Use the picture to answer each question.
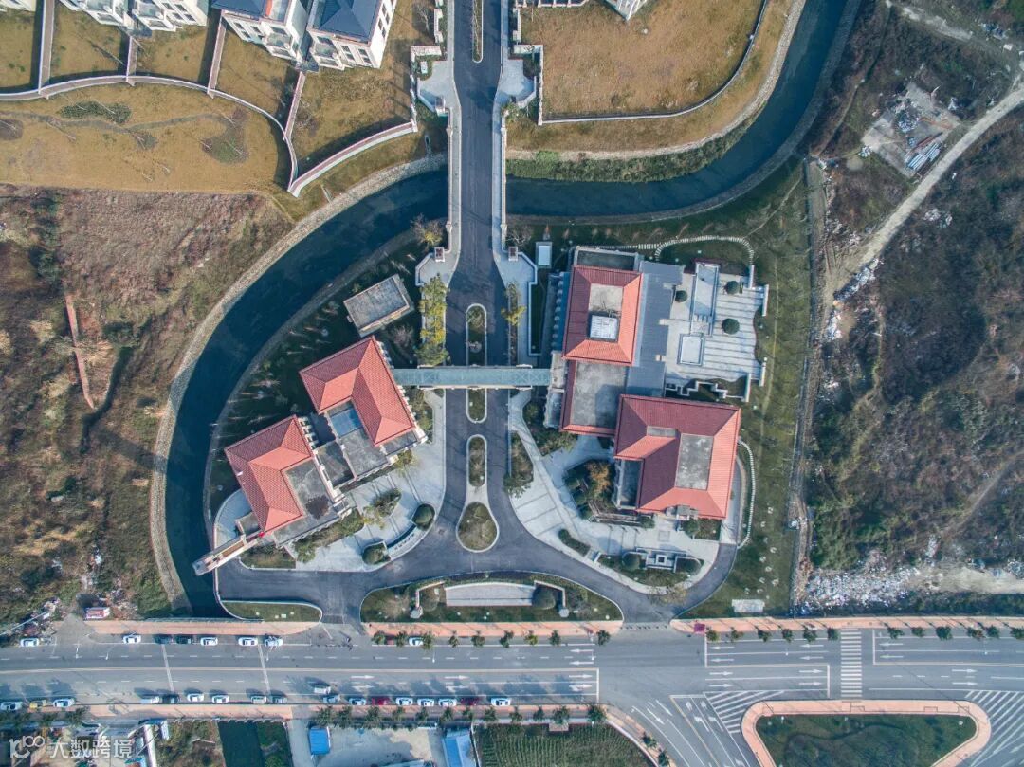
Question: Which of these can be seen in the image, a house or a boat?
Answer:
house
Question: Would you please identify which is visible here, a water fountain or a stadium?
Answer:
water fountain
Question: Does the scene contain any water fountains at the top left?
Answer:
No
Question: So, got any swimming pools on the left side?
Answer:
No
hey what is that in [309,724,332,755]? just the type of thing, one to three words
shed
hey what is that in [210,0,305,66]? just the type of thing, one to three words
house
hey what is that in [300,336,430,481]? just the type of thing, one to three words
building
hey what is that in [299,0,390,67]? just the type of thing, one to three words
house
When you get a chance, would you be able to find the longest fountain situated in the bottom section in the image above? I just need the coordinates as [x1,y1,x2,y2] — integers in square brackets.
[622,547,702,572]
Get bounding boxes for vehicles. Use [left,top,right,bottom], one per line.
[162,694,180,703]
[178,634,195,643]
[139,695,160,705]
[155,634,173,643]
[439,697,457,706]
[349,696,367,705]
[372,696,389,705]
[312,685,332,695]
[382,636,399,644]
[21,638,40,646]
[212,694,230,702]
[124,634,142,643]
[323,694,341,703]
[492,697,509,706]
[271,696,289,705]
[407,637,424,645]
[240,636,258,644]
[201,636,219,645]
[28,699,49,709]
[55,697,74,707]
[417,697,434,706]
[2,700,21,709]
[187,692,205,700]
[462,696,479,705]
[396,697,413,705]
